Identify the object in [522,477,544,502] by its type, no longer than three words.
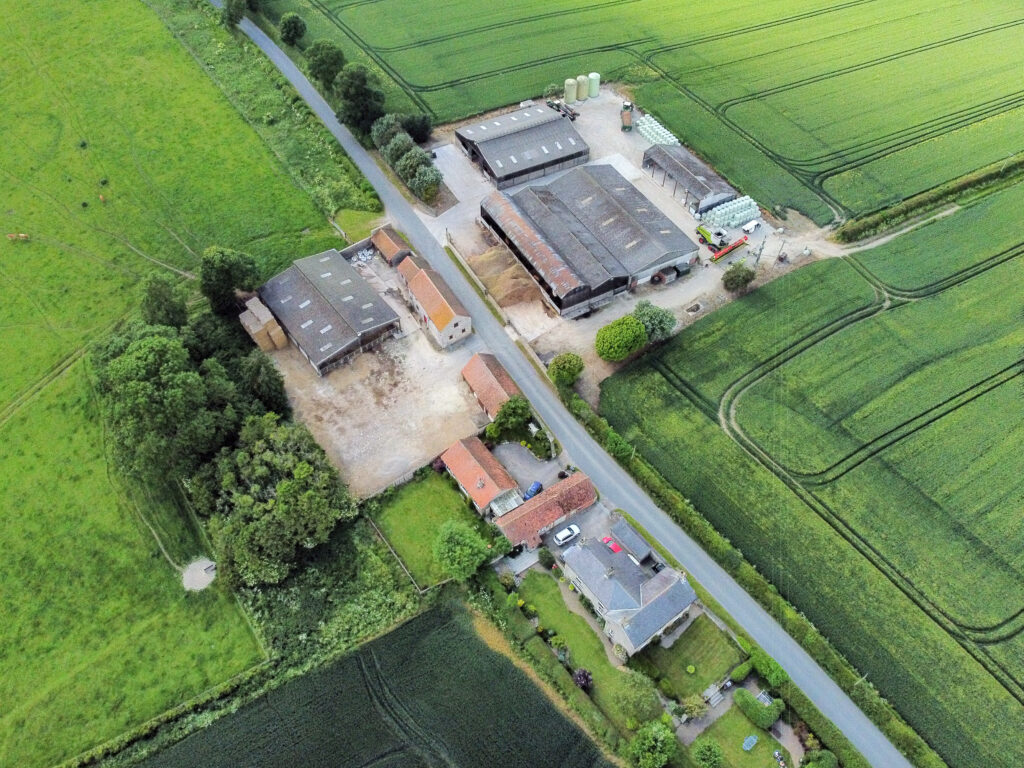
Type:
car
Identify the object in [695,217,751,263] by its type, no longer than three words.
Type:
work vehicle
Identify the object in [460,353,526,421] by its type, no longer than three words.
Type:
building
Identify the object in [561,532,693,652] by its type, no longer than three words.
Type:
house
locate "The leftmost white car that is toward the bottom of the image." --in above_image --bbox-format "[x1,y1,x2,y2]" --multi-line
[552,525,581,548]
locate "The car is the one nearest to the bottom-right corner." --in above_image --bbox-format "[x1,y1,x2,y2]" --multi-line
[648,561,671,576]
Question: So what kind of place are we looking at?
farmland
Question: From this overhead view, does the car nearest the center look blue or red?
blue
